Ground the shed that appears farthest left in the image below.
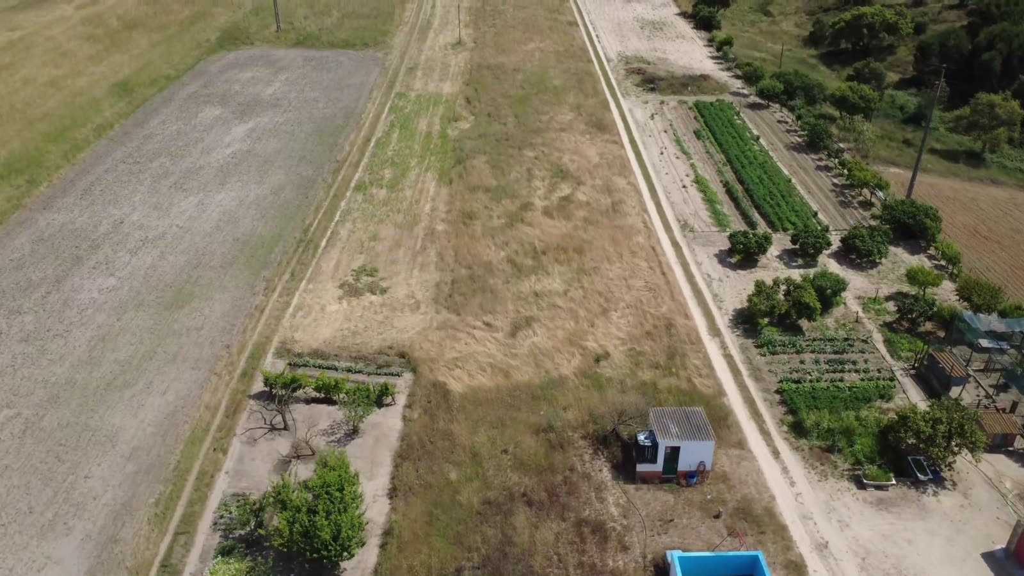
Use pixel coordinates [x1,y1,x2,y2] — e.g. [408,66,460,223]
[633,403,719,486]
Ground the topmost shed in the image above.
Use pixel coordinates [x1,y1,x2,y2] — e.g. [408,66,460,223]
[918,341,973,396]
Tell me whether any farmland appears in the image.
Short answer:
Yes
